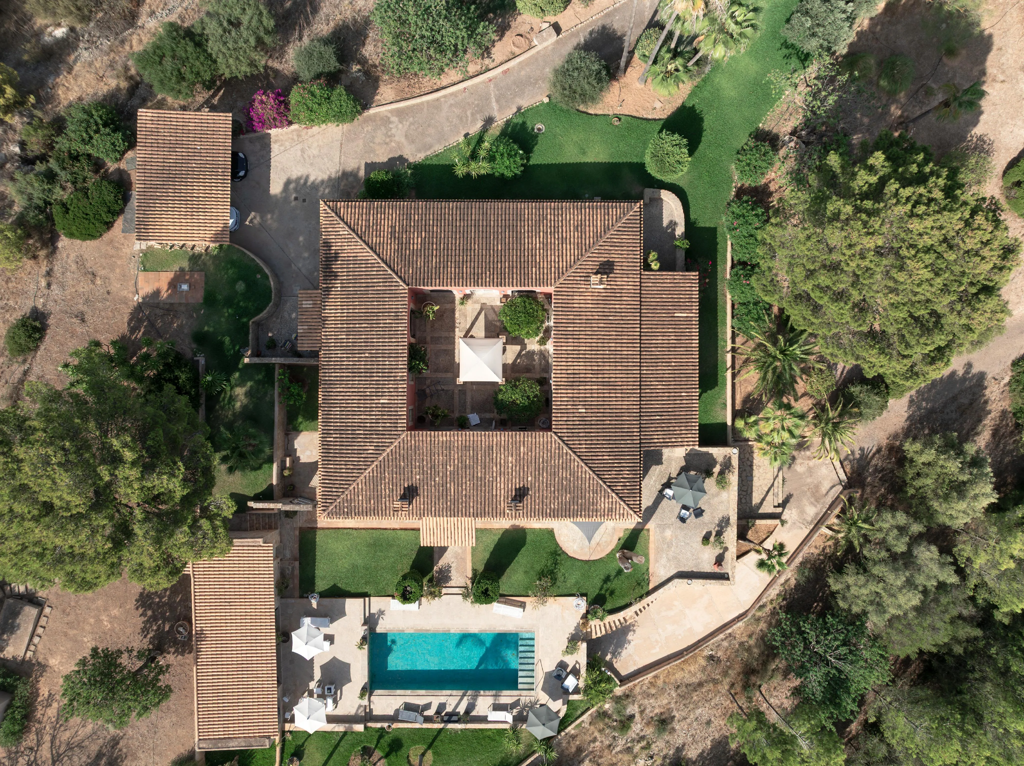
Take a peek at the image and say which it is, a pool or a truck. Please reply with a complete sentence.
Visible in the photo is a pool.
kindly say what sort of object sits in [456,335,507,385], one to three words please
gazebo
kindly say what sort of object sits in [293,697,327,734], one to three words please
umbrella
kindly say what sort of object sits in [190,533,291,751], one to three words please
building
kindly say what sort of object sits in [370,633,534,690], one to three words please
swimming pool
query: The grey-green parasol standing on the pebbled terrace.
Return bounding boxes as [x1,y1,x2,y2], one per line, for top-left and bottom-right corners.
[671,472,707,507]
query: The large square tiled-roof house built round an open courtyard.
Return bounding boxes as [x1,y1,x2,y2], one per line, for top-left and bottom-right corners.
[296,199,701,548]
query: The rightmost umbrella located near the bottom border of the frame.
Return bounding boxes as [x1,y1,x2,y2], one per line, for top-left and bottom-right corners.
[526,704,561,741]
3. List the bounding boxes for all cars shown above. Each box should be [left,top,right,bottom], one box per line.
[230,207,241,233]
[231,152,250,182]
